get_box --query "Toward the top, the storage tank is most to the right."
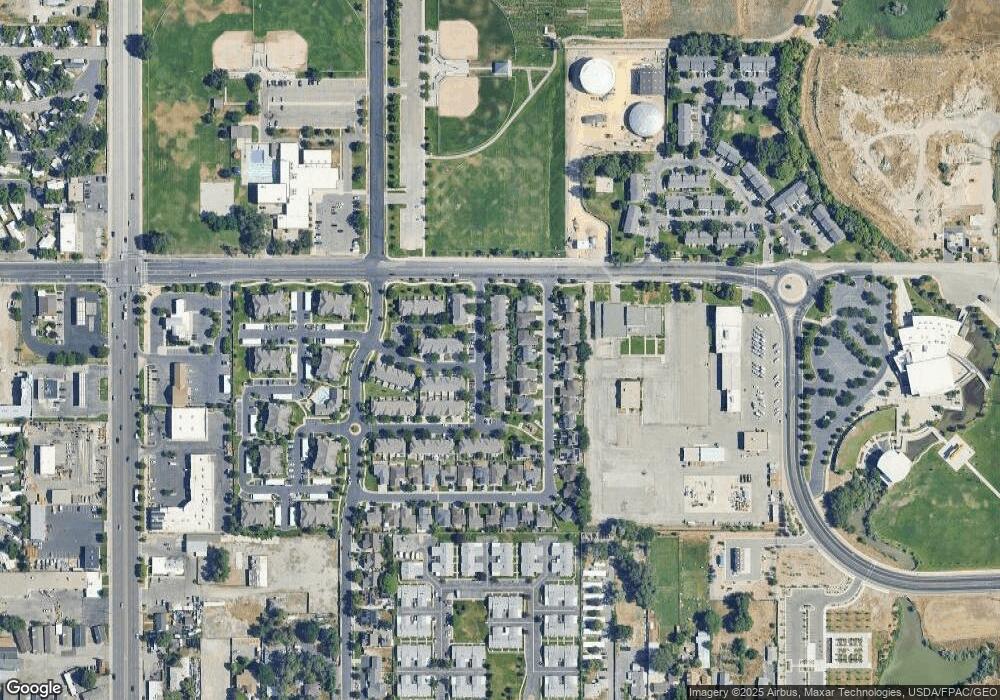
[629,103,664,139]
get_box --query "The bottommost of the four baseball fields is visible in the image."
[433,74,480,118]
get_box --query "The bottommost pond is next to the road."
[876,597,978,700]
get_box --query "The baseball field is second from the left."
[264,31,308,72]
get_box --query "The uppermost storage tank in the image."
[580,59,616,96]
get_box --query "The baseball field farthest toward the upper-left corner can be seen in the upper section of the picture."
[212,31,256,72]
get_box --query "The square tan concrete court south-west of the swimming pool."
[201,182,234,216]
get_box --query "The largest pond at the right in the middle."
[940,330,992,431]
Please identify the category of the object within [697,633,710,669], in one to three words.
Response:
shed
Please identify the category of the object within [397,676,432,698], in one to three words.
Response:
building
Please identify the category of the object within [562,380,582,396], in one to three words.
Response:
house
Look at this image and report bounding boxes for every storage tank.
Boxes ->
[629,103,664,139]
[580,59,616,96]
